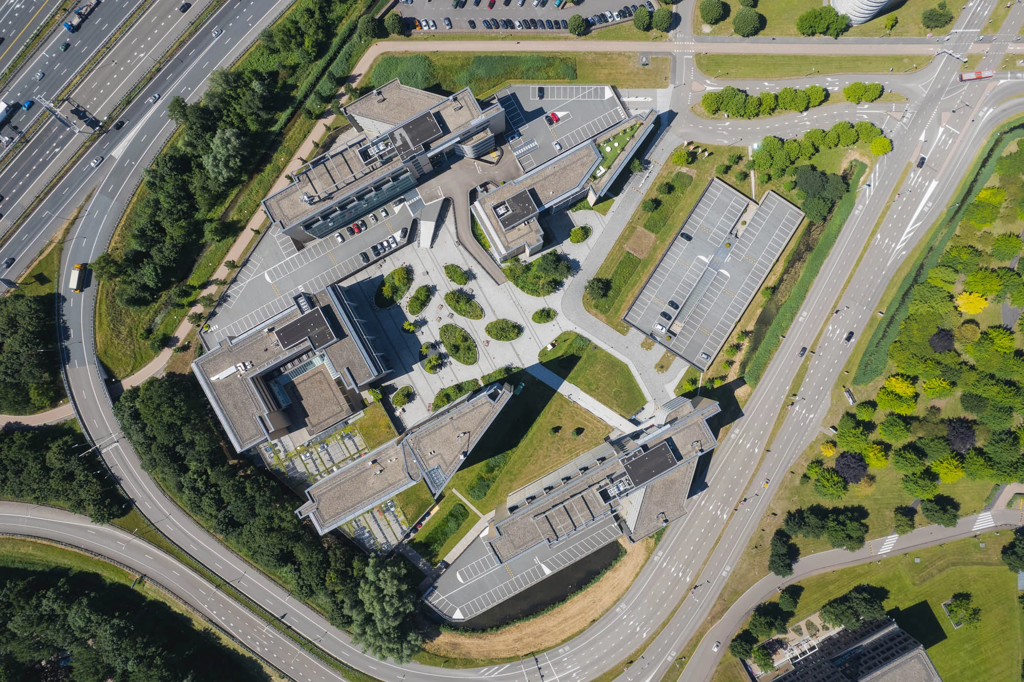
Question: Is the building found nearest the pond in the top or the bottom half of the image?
bottom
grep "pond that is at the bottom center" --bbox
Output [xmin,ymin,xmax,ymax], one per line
[434,539,627,633]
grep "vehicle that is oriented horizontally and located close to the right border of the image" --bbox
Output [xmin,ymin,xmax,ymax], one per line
[958,69,996,82]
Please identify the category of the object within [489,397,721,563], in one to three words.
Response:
building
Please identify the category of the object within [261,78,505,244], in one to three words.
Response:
building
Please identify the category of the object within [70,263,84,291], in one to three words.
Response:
vehicle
